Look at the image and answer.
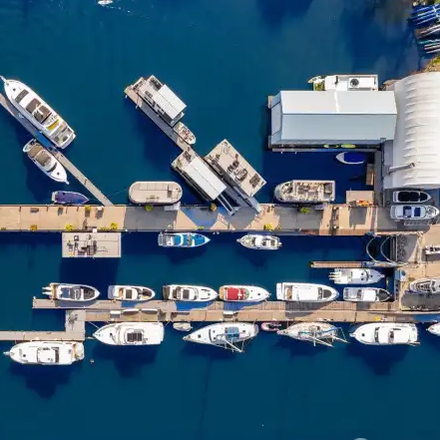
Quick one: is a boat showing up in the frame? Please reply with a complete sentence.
Yes, the image includes a boat.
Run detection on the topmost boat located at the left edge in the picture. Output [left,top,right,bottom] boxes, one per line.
[0,75,79,155]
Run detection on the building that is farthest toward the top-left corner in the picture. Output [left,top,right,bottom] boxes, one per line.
[136,75,189,124]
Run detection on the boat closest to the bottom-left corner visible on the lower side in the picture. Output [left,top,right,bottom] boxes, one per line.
[2,339,86,365]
